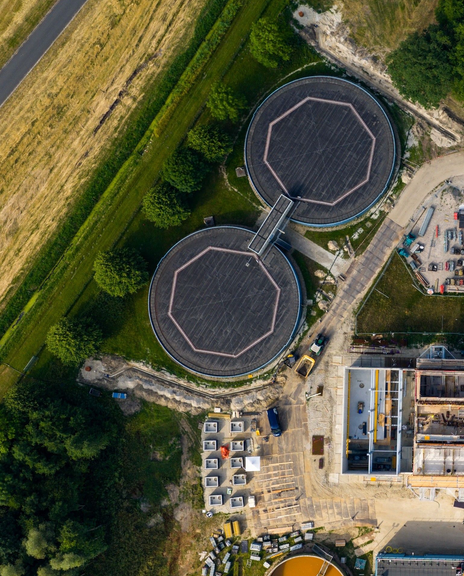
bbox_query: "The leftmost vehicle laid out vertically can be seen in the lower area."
[266,406,283,436]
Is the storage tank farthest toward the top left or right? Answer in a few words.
right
